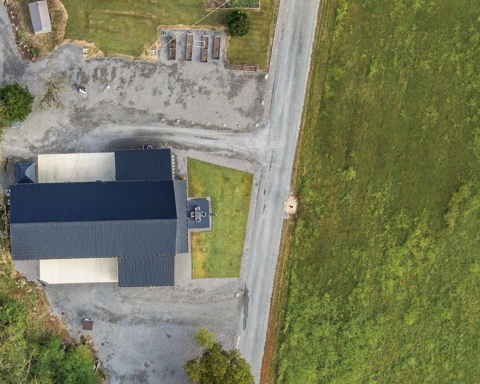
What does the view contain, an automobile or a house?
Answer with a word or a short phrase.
house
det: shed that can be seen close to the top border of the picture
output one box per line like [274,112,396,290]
[29,0,52,36]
